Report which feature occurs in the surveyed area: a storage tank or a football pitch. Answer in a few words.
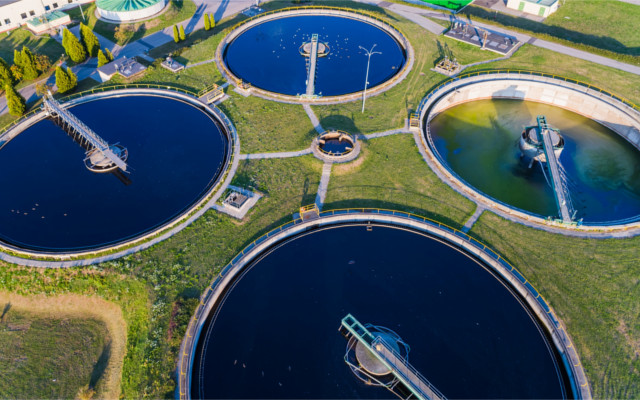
storage tank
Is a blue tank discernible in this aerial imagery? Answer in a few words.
Yes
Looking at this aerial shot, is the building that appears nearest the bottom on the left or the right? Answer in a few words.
left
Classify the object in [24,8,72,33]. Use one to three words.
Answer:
building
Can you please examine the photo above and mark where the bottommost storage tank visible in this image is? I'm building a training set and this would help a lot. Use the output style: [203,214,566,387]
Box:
[181,206,588,400]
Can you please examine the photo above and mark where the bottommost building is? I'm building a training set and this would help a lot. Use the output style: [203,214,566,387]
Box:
[97,55,141,82]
